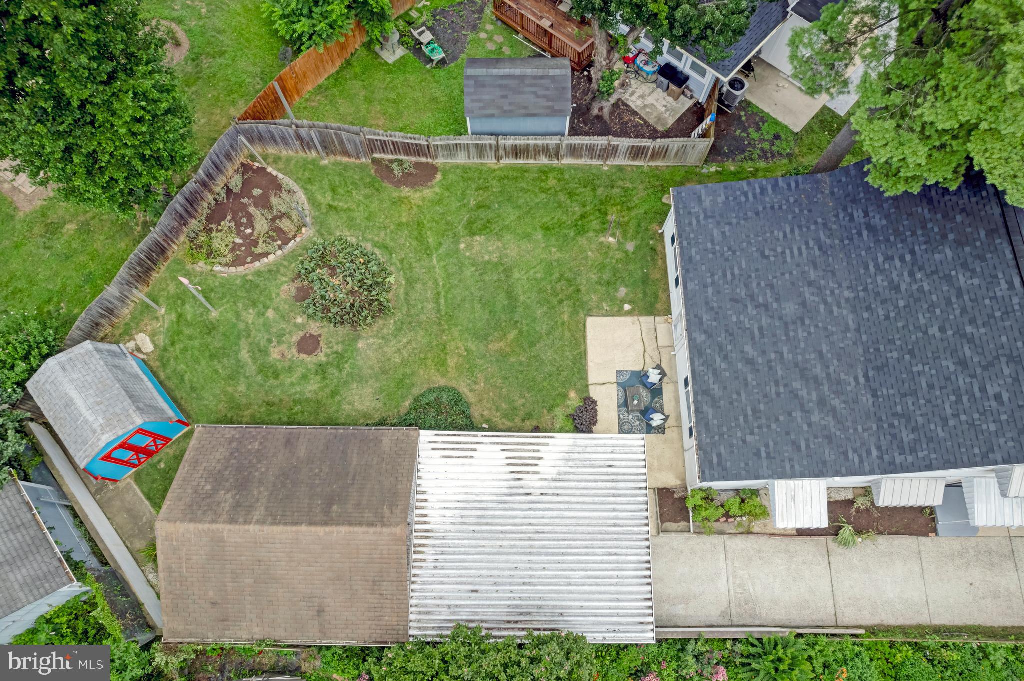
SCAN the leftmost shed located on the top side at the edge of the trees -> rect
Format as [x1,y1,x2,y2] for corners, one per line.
[463,58,574,146]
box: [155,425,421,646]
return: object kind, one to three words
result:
building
